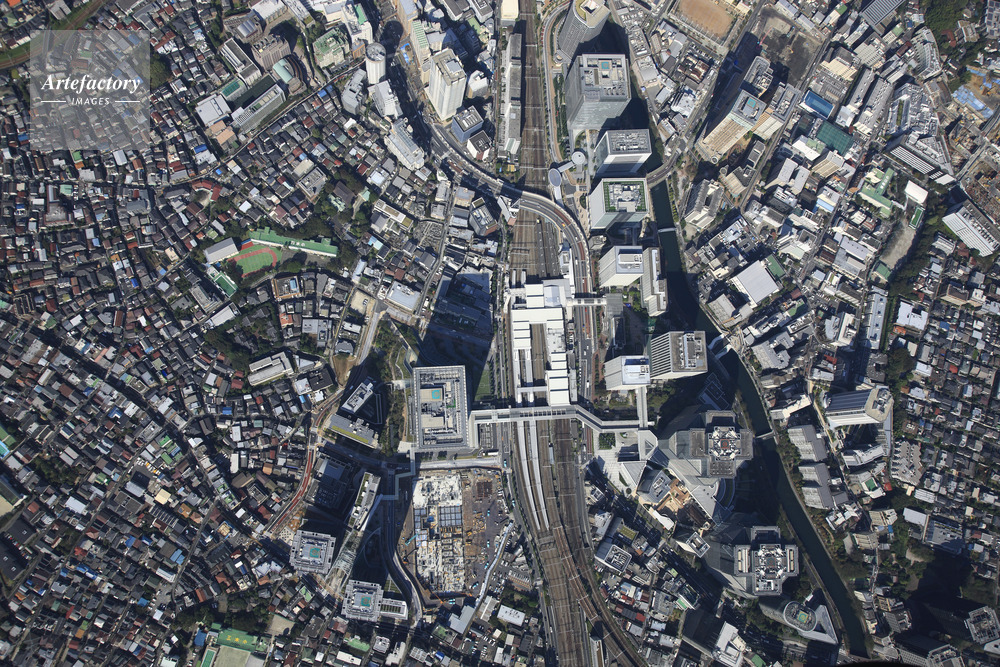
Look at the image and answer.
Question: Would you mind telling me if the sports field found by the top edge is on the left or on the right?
right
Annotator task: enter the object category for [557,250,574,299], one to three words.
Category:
building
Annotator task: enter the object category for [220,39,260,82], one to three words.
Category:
building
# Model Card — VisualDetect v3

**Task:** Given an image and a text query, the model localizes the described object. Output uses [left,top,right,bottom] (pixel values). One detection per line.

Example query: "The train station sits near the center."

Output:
[508,268,572,529]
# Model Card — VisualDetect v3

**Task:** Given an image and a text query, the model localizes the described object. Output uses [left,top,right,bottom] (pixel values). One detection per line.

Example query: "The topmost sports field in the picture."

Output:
[671,0,742,51]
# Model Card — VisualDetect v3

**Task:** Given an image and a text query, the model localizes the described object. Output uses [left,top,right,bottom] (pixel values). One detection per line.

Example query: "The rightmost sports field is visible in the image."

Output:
[884,221,914,267]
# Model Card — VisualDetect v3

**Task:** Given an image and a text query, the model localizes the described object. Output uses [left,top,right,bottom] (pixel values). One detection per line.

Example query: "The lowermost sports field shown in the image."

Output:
[215,646,266,667]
